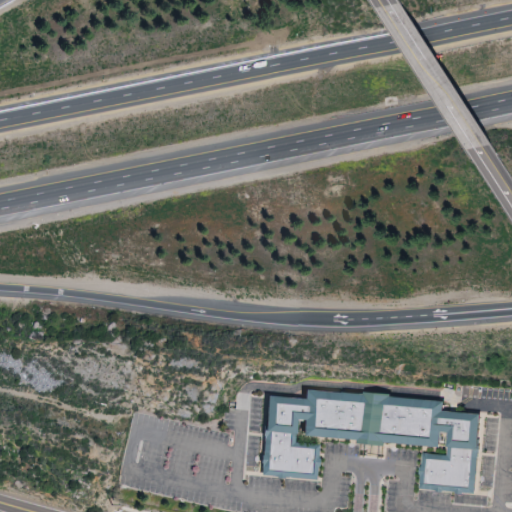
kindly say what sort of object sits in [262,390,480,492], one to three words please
building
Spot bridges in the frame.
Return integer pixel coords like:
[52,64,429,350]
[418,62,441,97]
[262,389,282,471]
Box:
[372,0,492,154]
